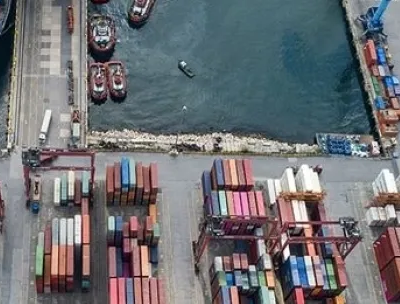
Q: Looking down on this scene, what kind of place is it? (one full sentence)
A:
What you see here is a port.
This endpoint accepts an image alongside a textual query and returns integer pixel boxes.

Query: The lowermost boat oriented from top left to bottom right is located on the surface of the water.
[177,57,195,76]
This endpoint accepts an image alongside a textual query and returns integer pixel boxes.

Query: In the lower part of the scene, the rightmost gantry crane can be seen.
[269,219,364,268]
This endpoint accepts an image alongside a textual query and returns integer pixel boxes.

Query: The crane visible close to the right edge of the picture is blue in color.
[354,0,393,45]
